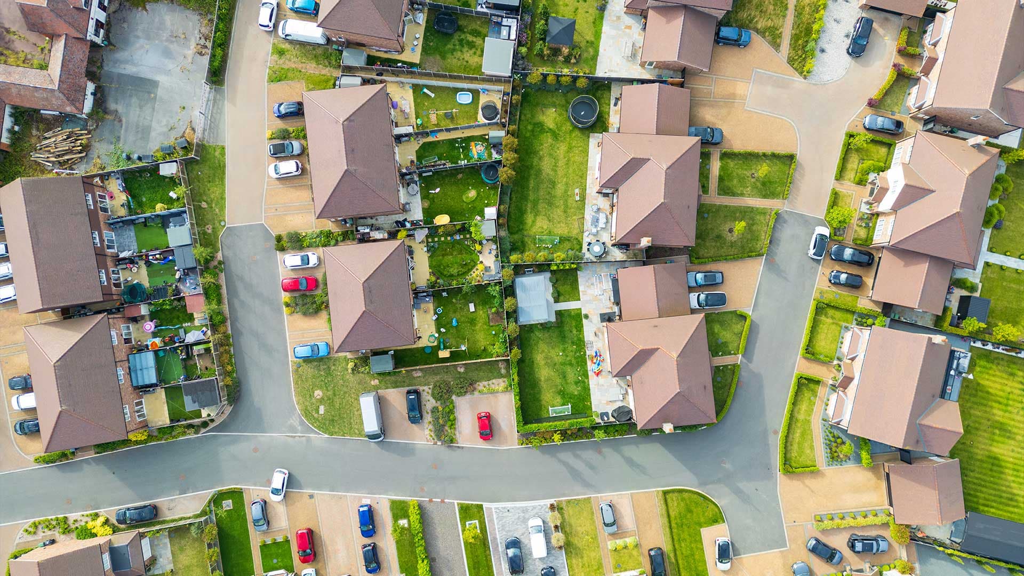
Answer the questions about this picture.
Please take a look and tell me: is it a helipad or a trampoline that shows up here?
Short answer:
trampoline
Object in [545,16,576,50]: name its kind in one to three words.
gazebo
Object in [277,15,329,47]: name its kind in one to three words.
van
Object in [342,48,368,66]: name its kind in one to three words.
shed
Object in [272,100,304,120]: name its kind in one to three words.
car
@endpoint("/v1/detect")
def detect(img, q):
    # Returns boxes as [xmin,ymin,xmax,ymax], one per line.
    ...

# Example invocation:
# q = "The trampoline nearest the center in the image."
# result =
[481,161,500,181]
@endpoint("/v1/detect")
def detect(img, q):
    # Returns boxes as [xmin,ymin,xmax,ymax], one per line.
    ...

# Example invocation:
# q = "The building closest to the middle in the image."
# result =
[515,275,549,323]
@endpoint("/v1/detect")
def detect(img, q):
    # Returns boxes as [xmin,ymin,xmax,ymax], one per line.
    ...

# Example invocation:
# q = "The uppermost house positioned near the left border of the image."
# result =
[22,0,112,48]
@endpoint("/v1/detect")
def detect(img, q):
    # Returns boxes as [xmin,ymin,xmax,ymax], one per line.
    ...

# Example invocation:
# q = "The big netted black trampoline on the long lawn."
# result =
[570,94,600,126]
